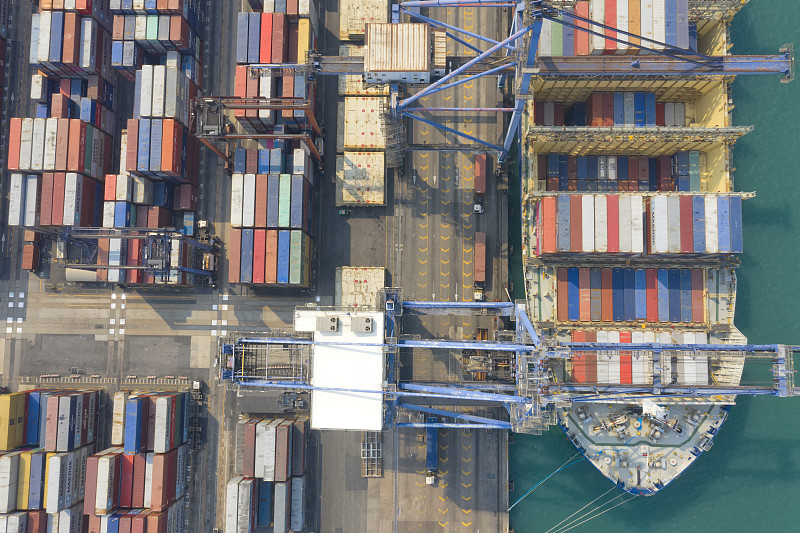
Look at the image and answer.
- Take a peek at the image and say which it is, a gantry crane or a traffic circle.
gantry crane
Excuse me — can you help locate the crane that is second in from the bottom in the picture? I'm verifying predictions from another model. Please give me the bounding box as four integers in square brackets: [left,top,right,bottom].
[60,224,220,281]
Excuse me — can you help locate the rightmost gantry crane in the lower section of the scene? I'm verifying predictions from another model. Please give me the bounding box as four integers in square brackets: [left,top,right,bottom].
[223,284,800,440]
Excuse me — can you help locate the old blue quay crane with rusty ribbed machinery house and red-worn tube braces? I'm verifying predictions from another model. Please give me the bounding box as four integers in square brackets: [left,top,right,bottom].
[223,0,794,181]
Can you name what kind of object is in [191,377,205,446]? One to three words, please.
vehicle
